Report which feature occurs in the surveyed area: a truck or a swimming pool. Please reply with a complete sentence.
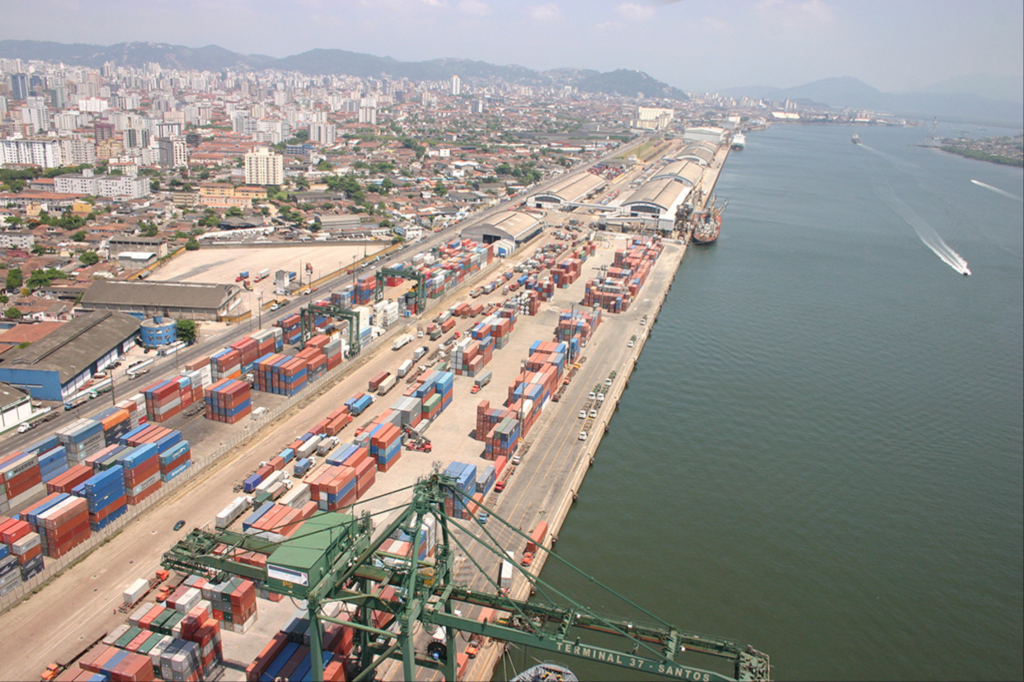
There is a truck in the scene.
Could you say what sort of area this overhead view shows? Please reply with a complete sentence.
This looks like a port.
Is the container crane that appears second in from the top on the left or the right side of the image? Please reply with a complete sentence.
The container crane that appears second in from the top is on the left side of the image.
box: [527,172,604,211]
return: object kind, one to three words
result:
building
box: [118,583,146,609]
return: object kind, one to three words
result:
shipping container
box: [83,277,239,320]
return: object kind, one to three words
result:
building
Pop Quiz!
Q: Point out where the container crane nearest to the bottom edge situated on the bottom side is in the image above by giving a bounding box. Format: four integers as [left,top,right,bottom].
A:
[147,462,770,682]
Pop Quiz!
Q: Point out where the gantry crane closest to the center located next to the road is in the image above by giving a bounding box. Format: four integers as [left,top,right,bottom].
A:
[368,264,430,311]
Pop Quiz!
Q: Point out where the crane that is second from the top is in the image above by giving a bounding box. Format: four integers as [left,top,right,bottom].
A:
[296,301,364,356]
